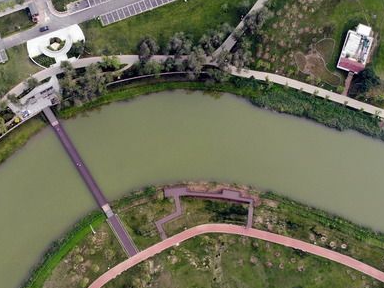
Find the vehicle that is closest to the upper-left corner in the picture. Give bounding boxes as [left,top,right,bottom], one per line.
[26,1,40,22]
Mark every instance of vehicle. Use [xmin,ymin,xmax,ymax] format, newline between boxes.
[26,1,40,22]
[39,25,49,31]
